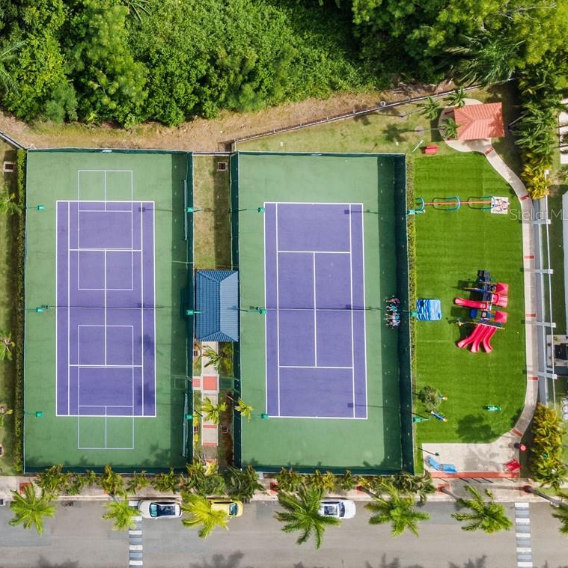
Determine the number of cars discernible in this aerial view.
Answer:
3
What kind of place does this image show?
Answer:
sports ground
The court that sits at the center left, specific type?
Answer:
tennis court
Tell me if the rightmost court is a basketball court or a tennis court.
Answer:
tennis court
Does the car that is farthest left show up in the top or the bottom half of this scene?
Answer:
bottom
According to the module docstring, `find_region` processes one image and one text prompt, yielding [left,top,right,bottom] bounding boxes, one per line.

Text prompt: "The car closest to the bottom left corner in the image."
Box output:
[138,498,181,520]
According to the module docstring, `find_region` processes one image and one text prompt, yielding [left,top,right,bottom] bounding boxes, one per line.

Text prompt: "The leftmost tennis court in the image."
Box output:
[23,153,186,469]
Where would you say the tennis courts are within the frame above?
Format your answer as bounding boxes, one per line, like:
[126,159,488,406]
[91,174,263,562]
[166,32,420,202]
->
[23,153,186,469]
[230,155,402,469]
